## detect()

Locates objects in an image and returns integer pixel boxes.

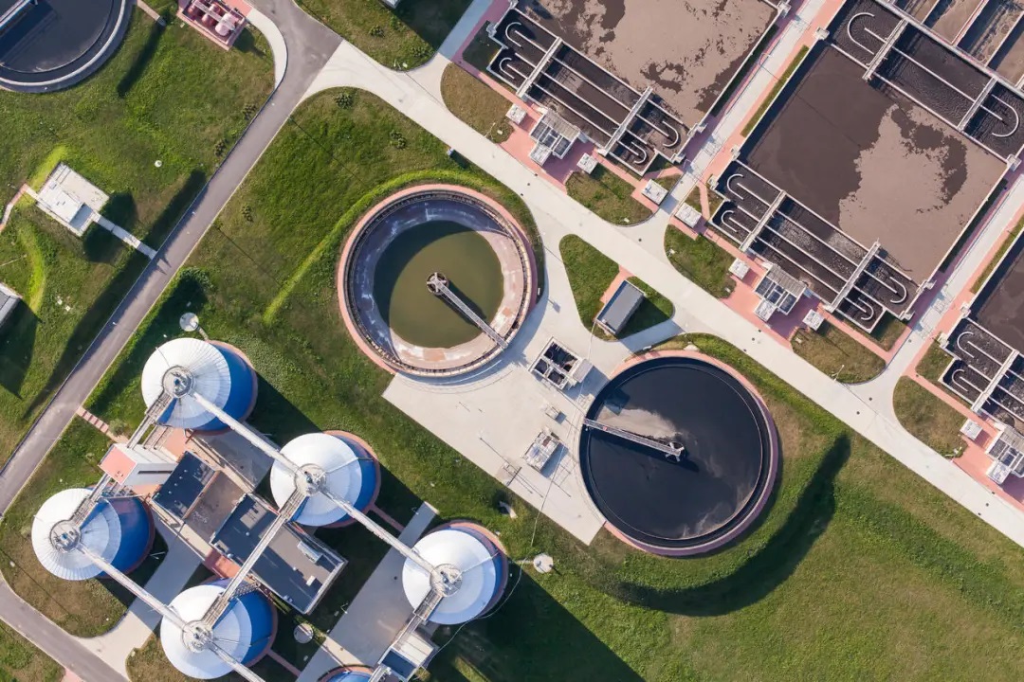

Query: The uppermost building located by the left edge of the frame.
[37,162,113,238]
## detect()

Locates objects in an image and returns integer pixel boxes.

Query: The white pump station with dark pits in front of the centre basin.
[753,259,810,321]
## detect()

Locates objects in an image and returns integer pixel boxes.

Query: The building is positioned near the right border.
[984,419,1024,482]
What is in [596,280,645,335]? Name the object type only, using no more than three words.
building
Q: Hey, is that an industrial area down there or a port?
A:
industrial area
